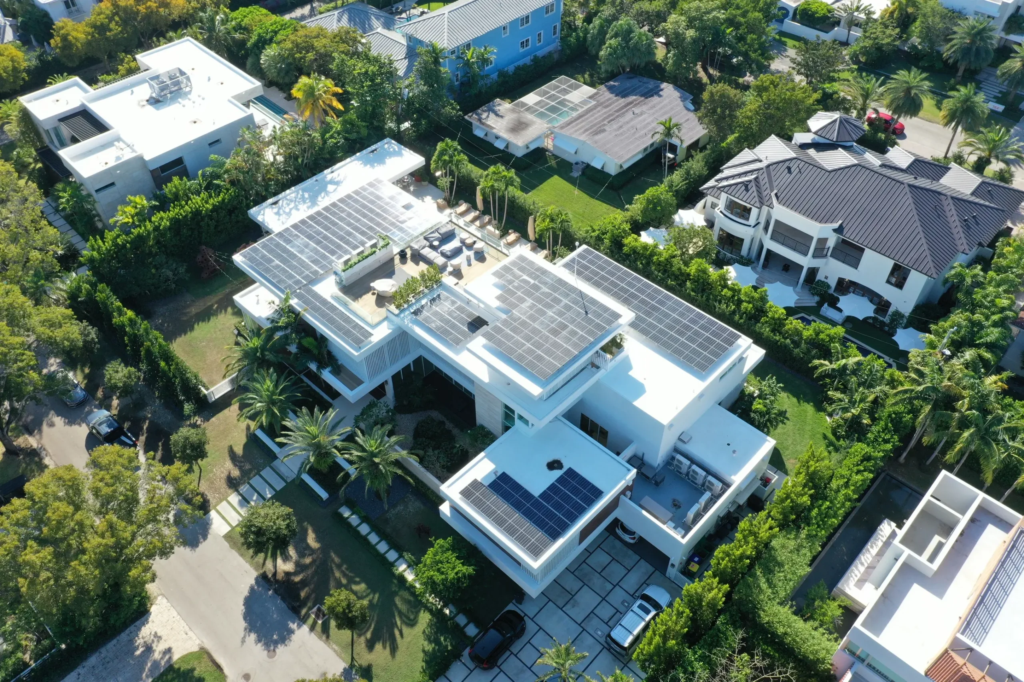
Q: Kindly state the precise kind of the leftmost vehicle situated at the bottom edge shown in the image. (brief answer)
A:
car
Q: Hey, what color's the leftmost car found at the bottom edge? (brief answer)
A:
black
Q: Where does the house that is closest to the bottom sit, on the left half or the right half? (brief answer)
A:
right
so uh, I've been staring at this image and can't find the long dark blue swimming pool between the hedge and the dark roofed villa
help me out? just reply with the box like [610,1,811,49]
[787,307,877,366]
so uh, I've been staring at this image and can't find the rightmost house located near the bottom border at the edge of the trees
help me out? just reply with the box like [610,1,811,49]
[817,471,1024,682]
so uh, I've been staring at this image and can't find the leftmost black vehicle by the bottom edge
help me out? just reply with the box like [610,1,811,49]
[467,606,535,676]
